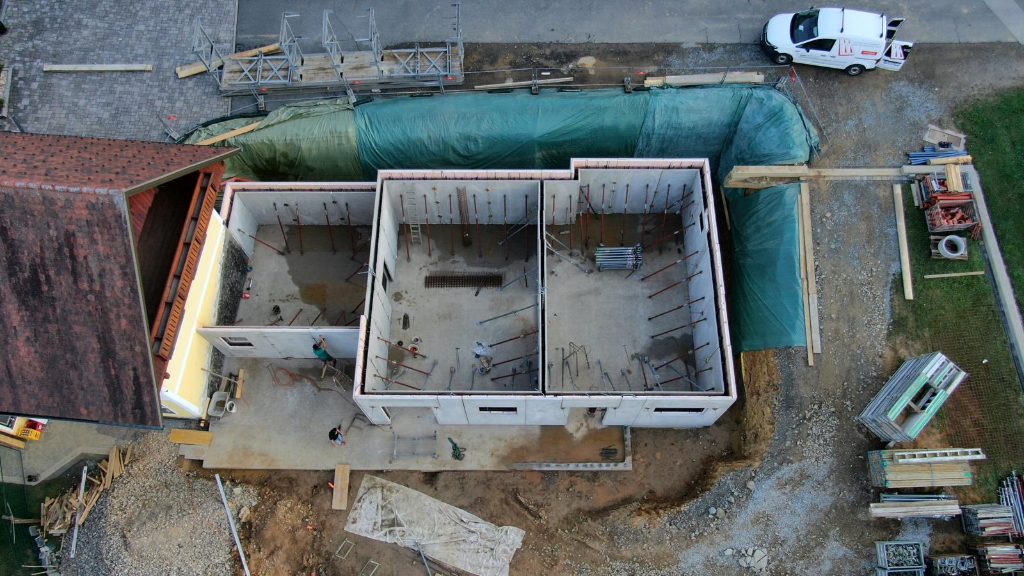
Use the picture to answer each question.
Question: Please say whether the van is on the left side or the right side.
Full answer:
It is on the right.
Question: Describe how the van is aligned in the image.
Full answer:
The van is oriented from side to side.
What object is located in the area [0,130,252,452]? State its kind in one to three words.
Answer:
house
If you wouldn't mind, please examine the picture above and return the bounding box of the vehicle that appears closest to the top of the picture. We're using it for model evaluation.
[756,2,913,77]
